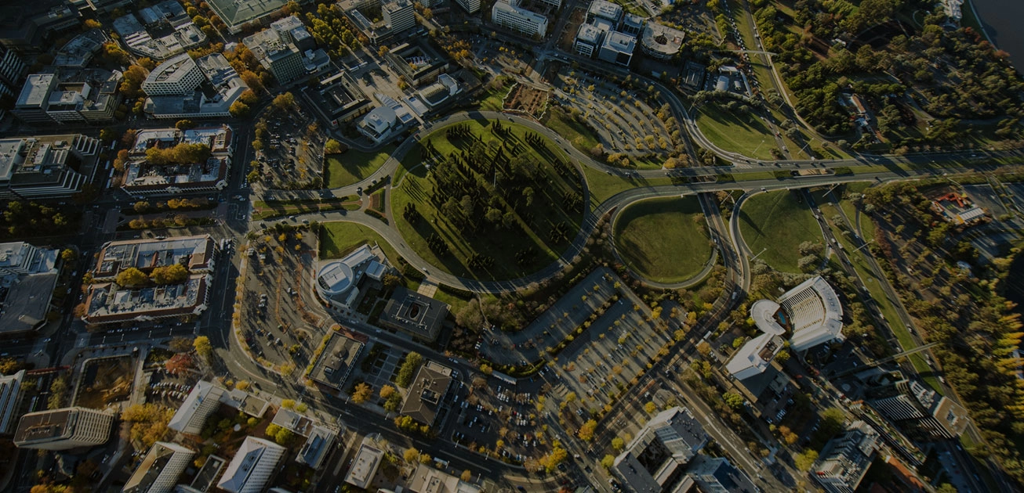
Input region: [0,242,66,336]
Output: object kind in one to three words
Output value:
building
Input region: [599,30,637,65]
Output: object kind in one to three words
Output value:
building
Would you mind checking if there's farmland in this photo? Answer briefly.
No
